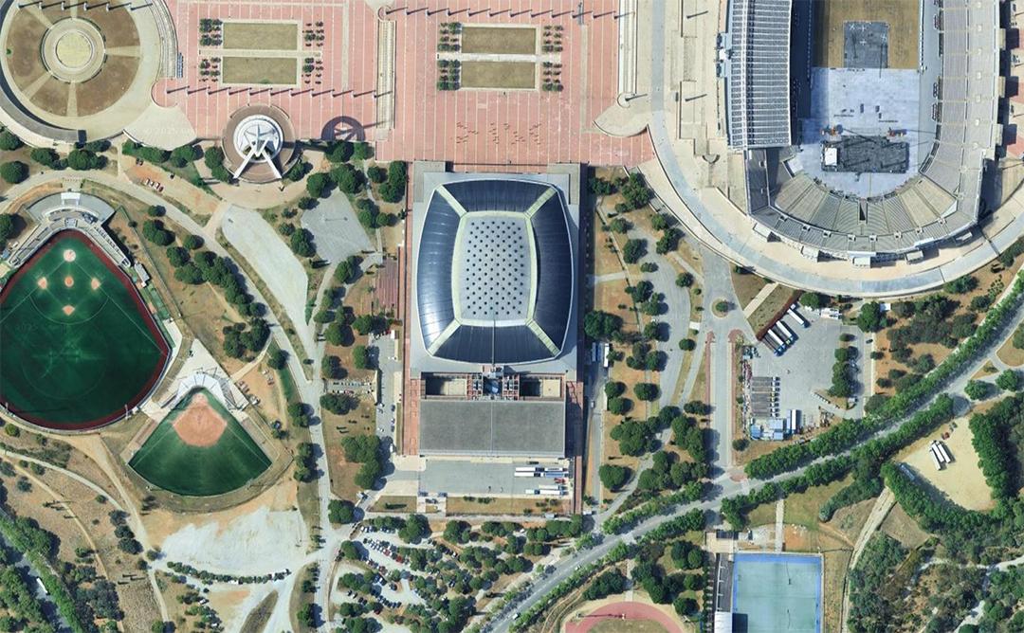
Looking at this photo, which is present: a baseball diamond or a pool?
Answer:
baseball diamond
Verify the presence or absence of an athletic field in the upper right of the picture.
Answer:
Yes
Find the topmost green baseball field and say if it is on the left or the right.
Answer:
left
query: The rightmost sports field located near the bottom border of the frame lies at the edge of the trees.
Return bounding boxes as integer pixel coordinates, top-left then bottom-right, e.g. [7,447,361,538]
[732,551,824,633]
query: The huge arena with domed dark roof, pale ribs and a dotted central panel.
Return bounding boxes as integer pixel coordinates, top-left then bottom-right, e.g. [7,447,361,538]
[411,161,580,375]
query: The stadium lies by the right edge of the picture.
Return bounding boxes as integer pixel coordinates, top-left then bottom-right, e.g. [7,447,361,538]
[717,0,1006,267]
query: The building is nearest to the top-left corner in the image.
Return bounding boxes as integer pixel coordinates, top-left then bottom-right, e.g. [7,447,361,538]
[0,91,87,153]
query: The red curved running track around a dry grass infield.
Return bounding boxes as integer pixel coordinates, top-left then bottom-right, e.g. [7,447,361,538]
[557,594,693,633]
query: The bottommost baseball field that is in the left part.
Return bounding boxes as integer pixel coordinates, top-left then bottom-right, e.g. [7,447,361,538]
[120,384,292,508]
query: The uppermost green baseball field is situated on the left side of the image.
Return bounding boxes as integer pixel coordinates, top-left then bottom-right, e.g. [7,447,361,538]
[0,230,169,431]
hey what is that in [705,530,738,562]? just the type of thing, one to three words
building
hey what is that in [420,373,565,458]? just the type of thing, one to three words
building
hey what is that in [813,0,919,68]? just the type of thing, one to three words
sports field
